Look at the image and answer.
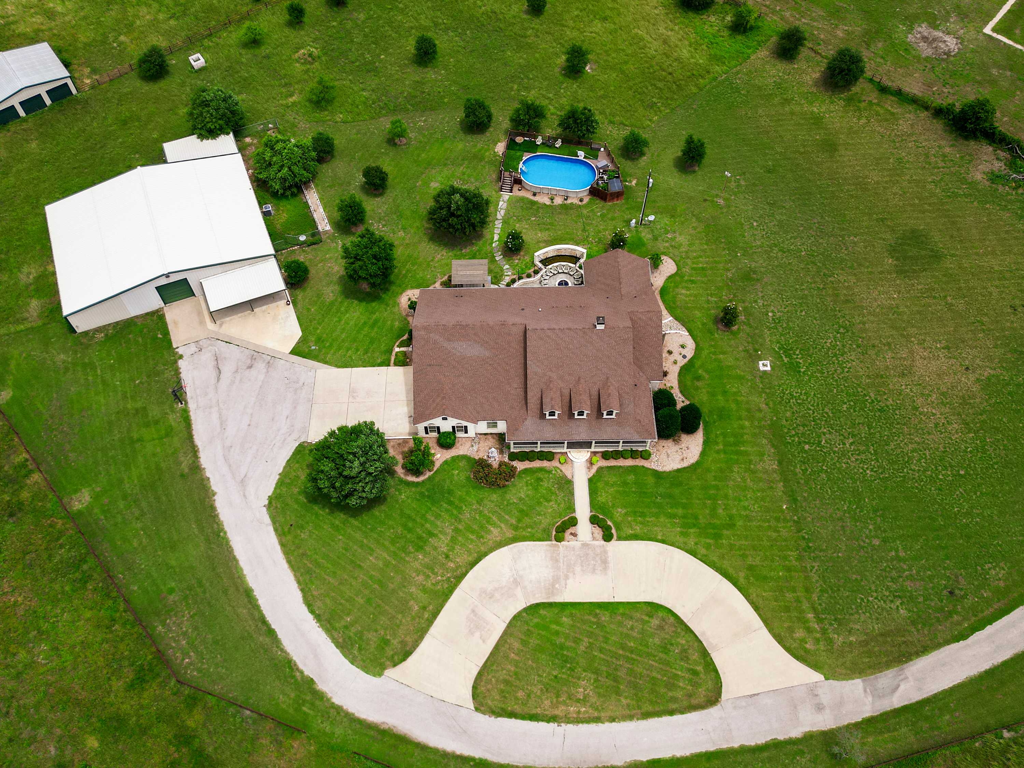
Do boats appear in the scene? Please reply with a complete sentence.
No, the photo shows no boat.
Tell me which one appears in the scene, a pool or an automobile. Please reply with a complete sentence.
I can see a pool in this picture.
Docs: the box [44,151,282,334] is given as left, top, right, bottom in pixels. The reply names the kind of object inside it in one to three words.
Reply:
barn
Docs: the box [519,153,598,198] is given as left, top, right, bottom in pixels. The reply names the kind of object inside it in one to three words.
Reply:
swimming pool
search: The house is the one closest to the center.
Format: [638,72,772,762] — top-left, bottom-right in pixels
[412,248,664,463]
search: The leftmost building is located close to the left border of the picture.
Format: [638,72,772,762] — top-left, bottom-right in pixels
[0,41,79,126]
